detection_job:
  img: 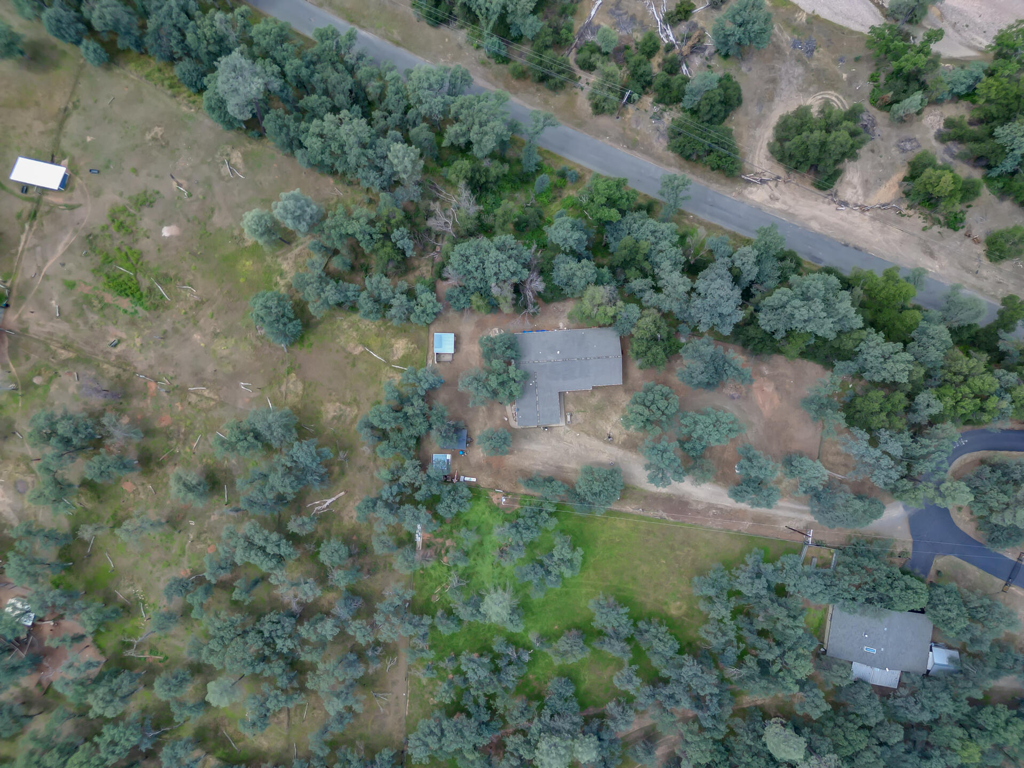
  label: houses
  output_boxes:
[513,326,623,427]
[822,602,934,674]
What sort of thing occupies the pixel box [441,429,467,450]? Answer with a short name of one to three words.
shed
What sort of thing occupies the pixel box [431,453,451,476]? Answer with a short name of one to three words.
shed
